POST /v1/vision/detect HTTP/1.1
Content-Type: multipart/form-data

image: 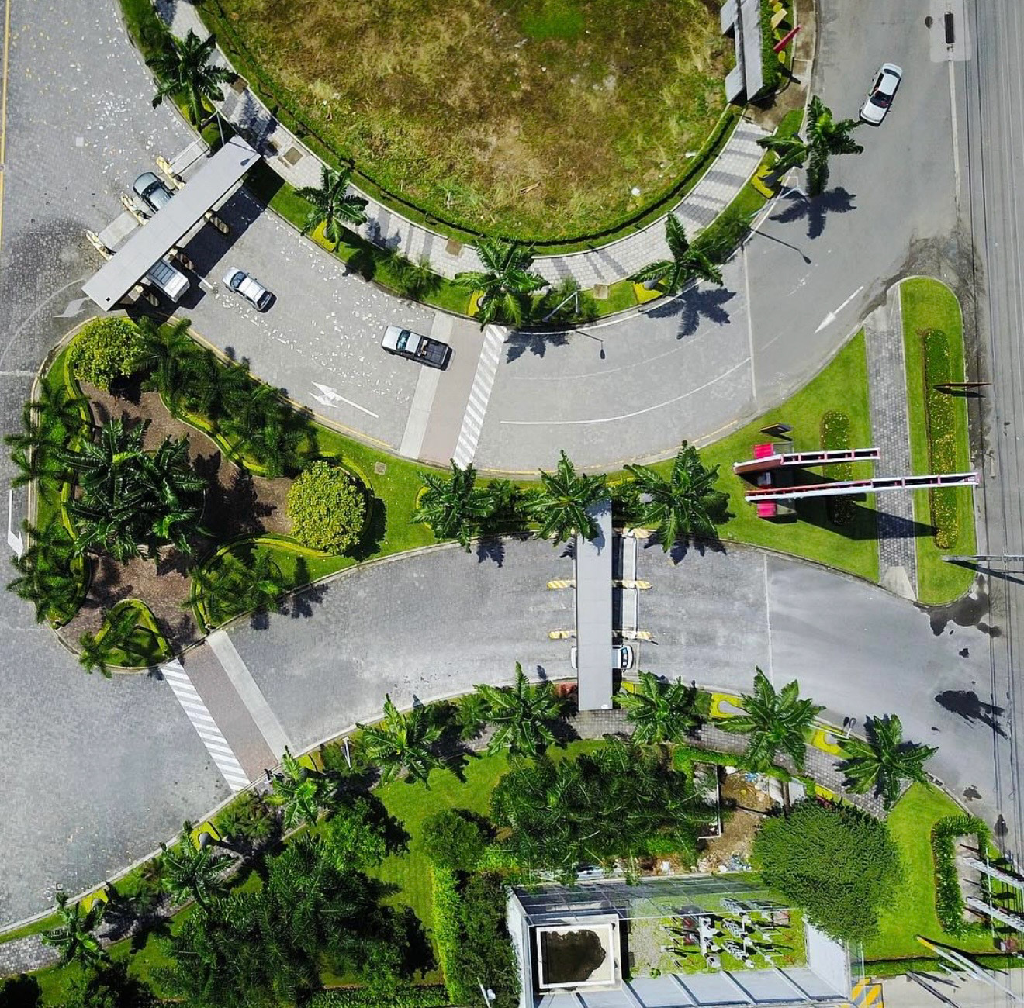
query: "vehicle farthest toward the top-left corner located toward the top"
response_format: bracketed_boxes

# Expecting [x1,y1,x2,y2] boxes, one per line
[133,169,173,213]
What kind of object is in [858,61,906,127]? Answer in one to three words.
car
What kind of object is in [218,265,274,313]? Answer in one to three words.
car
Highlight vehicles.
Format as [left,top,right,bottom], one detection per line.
[858,61,906,127]
[151,256,197,306]
[218,265,274,313]
[133,169,173,213]
[380,327,455,369]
